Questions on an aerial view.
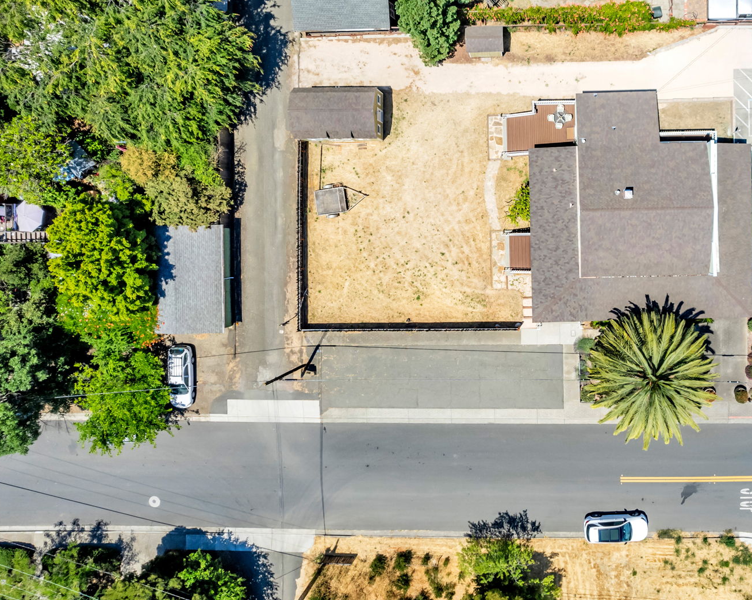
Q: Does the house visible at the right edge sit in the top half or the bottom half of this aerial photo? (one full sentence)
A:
Seen from above, the house visible at the right edge lies in the top half of the view.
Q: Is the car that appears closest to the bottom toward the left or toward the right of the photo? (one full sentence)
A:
The car that appears closest to the bottom is on the right side of the image.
